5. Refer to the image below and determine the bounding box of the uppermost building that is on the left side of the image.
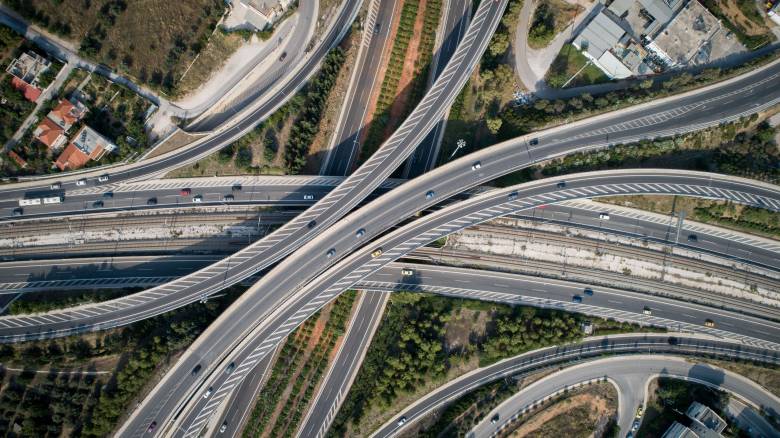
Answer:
[243,0,289,36]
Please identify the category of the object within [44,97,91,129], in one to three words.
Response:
house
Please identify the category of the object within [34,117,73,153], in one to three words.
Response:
house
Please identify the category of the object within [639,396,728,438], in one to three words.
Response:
building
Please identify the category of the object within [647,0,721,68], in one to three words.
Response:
building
